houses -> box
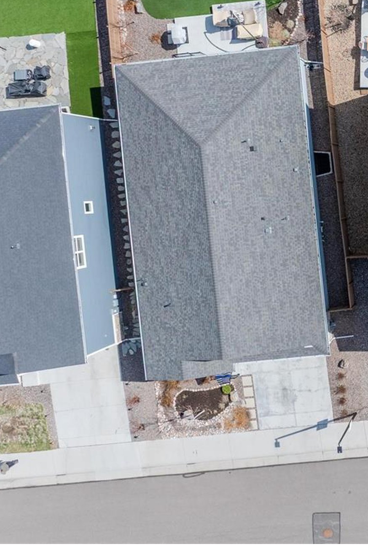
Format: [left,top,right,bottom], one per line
[113,45,354,381]
[0,103,135,386]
